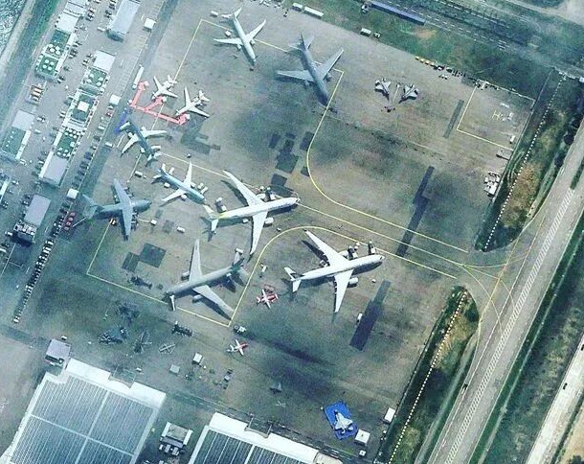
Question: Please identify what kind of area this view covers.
airport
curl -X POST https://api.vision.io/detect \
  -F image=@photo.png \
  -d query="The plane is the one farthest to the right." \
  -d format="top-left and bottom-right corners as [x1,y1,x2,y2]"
[399,83,417,103]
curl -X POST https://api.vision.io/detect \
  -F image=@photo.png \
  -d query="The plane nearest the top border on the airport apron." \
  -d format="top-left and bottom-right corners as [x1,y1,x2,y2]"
[218,9,270,63]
